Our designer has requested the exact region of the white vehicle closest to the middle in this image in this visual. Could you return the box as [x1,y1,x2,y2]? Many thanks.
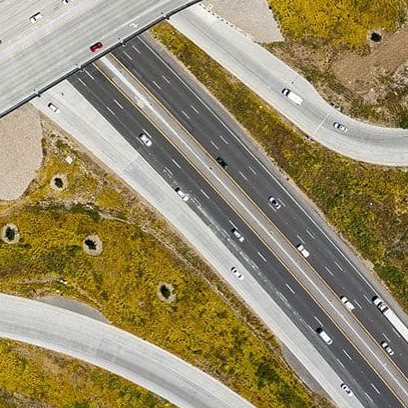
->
[175,188,190,202]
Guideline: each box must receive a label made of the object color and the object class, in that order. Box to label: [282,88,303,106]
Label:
white vehicle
